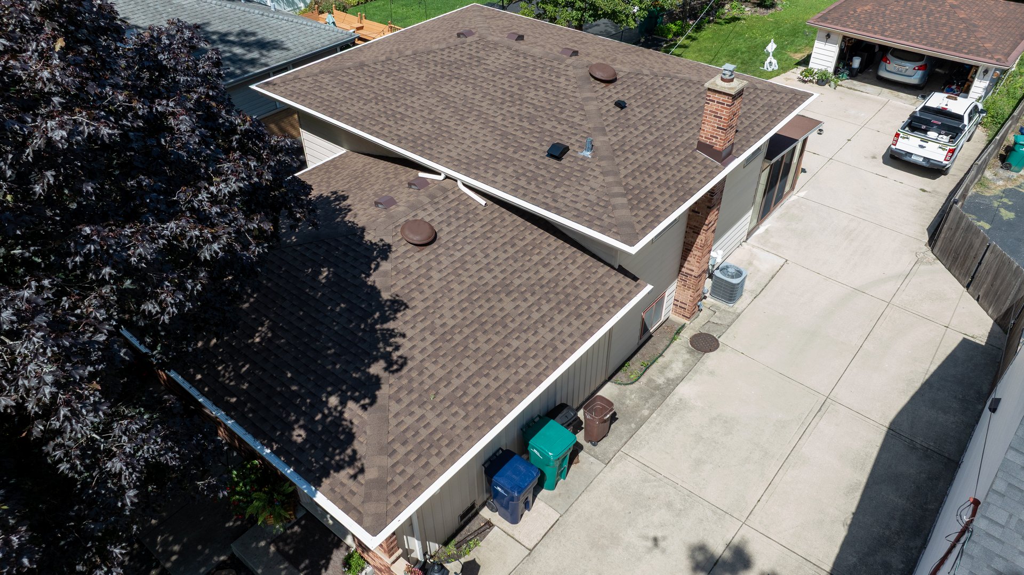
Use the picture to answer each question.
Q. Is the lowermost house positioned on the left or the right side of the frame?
right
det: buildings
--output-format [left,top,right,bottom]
[914,343,1024,575]
[101,4,827,575]
[806,0,1024,111]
